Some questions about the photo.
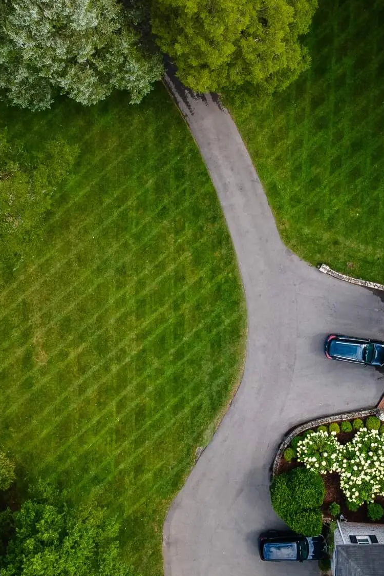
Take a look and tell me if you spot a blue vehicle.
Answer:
Yes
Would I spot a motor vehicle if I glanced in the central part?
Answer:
No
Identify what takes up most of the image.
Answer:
grass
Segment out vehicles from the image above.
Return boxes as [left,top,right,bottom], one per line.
[259,531,324,565]
[324,334,384,365]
